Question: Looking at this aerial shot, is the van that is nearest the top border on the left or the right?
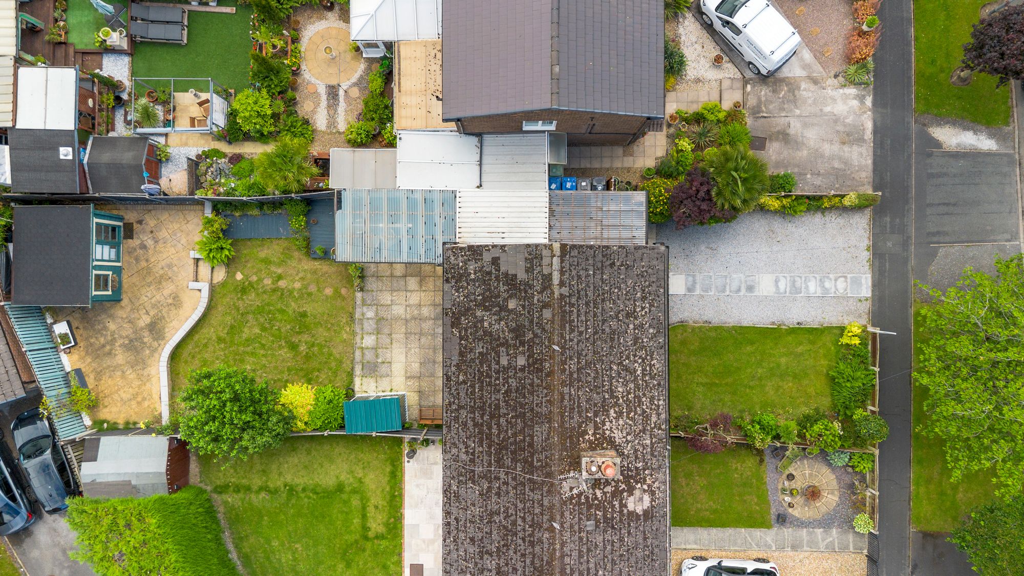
right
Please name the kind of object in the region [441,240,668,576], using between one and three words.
house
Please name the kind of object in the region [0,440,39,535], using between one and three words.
car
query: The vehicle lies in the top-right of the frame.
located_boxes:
[700,0,804,81]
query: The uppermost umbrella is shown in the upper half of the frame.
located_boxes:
[90,0,130,28]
